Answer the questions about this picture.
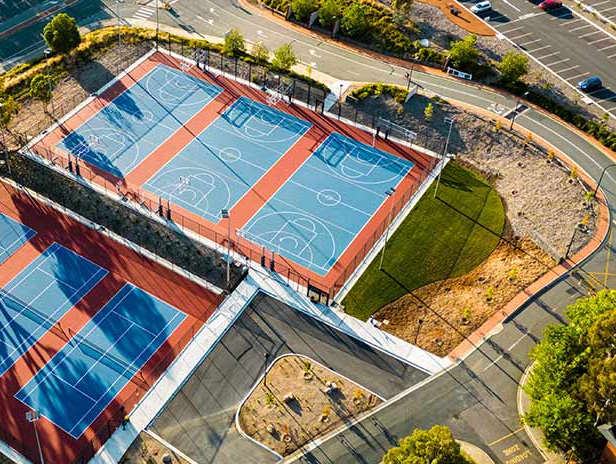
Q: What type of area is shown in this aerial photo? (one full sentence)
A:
The area seen from above is a sports ground.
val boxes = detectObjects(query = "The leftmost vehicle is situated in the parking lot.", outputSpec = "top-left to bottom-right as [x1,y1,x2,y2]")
[471,1,493,14]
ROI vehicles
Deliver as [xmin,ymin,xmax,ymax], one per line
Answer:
[541,0,562,11]
[579,76,603,92]
[471,1,493,14]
